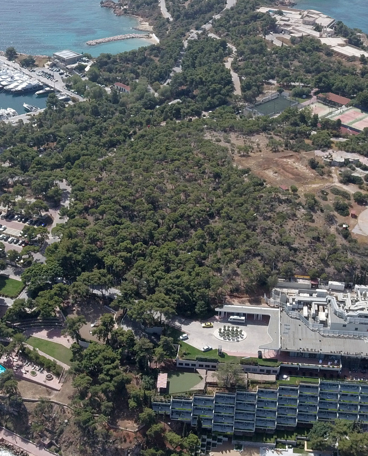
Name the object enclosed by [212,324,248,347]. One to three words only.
roundabout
